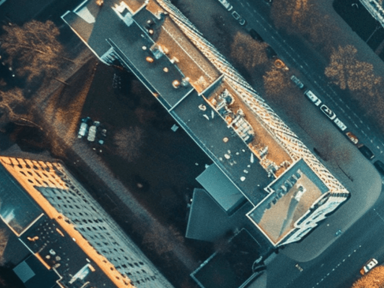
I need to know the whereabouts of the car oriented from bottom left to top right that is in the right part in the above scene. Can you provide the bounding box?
[360,261,375,275]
